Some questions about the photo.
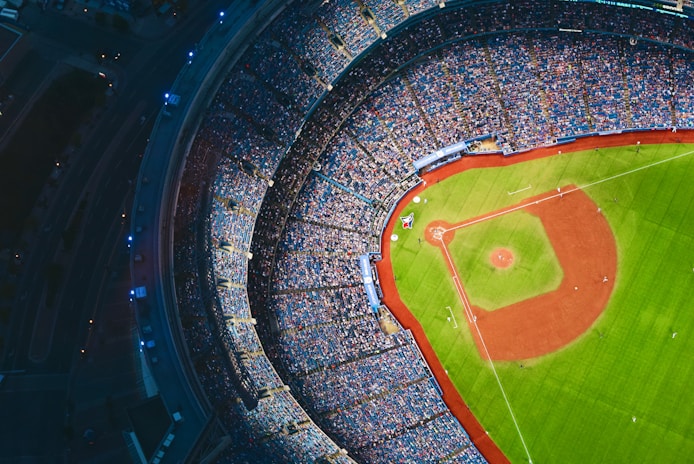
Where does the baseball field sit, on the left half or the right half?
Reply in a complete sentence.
The baseball field appears in the right half of the scene.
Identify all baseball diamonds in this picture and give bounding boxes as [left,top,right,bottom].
[379,133,694,464]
